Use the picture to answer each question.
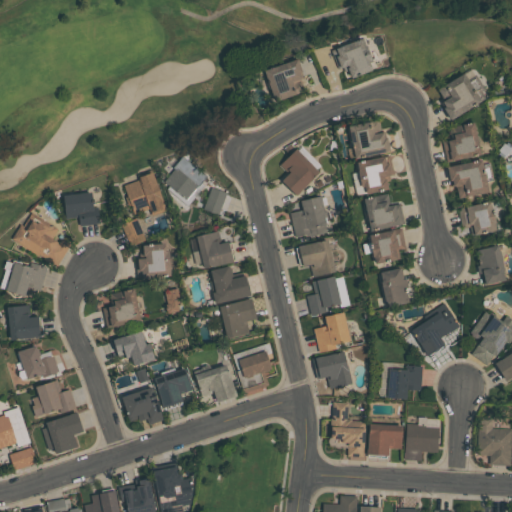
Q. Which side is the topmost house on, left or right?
right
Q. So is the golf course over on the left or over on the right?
left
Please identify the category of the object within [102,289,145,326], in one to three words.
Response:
house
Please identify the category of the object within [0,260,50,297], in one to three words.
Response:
house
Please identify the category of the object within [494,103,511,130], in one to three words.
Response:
swimming pool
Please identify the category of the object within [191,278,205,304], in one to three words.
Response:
swimming pool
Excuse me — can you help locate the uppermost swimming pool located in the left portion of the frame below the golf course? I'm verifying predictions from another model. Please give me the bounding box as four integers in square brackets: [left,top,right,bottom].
[148,218,169,234]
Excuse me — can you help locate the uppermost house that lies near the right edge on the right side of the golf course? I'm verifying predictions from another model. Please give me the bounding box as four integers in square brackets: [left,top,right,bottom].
[440,72,488,116]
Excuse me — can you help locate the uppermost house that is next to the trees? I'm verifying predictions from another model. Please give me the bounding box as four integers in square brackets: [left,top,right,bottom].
[332,38,376,77]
